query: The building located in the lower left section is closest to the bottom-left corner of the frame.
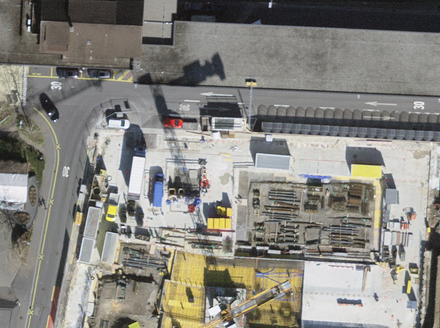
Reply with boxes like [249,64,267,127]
[75,236,94,264]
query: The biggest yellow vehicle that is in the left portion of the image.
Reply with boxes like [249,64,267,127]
[104,204,118,223]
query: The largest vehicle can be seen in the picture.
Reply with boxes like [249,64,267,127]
[126,145,147,202]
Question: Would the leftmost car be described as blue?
No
